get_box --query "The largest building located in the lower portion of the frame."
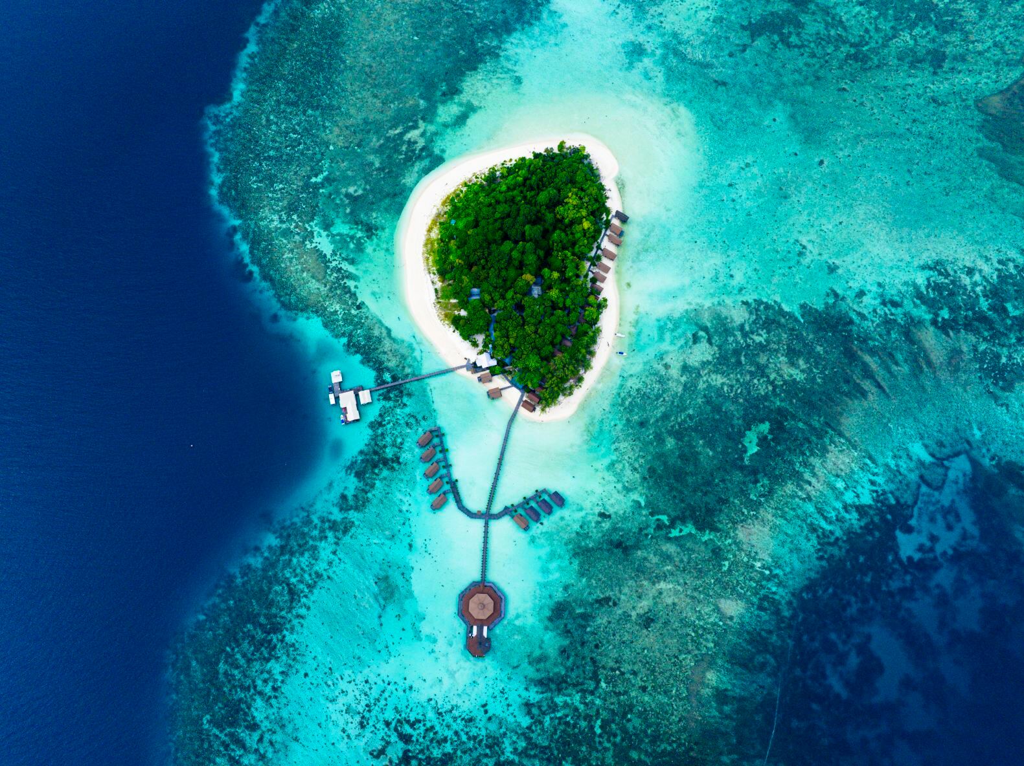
[458,582,505,657]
